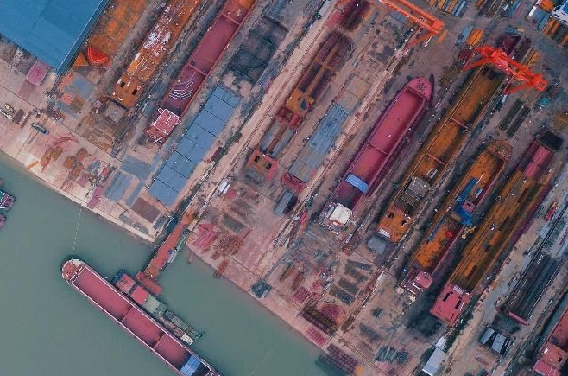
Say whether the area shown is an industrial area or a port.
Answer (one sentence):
This image shows a port.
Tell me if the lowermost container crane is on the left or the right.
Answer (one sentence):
The lowermost container crane sits on the right side.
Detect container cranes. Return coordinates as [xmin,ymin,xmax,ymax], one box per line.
[460,41,546,99]
[371,0,447,50]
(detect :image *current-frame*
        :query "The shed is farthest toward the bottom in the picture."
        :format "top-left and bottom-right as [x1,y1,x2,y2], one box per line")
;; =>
[417,346,447,376]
